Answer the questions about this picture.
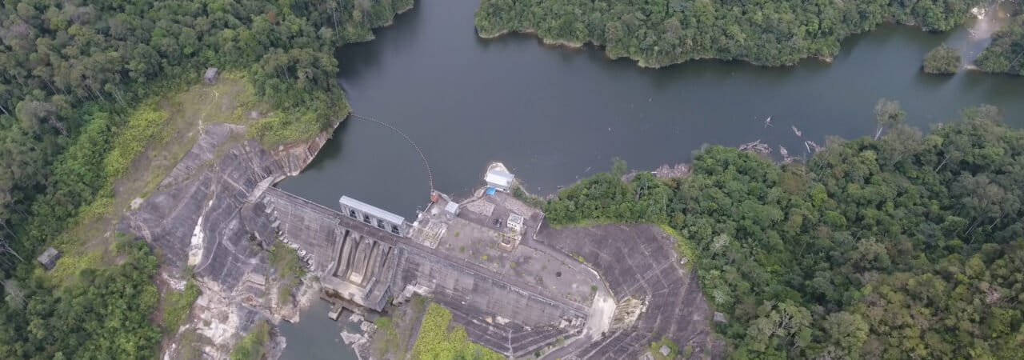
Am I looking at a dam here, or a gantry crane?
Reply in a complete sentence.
Looking from above, you can make out a dam.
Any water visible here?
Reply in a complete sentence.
Yes, water shows up in the scene.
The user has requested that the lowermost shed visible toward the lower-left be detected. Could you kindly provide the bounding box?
[33,250,59,274]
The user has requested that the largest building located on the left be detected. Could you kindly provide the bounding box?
[338,193,410,237]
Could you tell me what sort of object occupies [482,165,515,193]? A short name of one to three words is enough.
building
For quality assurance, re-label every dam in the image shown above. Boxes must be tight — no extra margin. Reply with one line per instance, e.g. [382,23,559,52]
[261,182,597,330]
